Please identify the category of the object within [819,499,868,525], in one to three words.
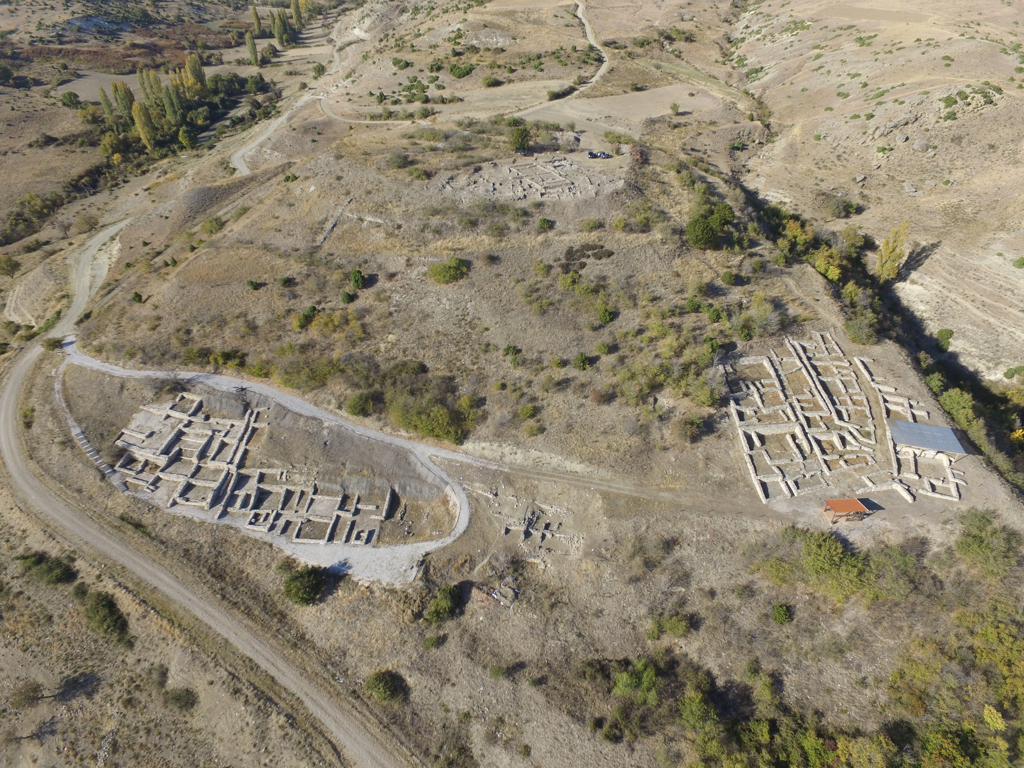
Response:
shed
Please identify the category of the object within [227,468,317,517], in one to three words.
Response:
house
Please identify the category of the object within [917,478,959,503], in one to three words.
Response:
house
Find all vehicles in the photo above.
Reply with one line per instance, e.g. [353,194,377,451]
[596,147,610,158]
[587,148,595,158]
